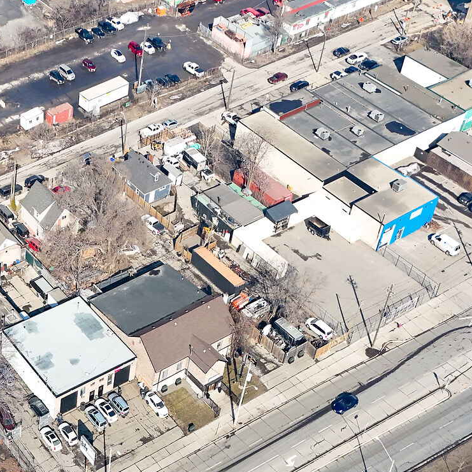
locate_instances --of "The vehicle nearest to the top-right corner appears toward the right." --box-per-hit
[452,0,470,19]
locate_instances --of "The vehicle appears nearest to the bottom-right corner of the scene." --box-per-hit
[330,392,361,412]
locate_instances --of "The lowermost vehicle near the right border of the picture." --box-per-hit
[427,233,462,257]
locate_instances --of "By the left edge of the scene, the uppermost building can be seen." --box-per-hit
[19,106,44,129]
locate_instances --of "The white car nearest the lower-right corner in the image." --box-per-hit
[304,318,336,342]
